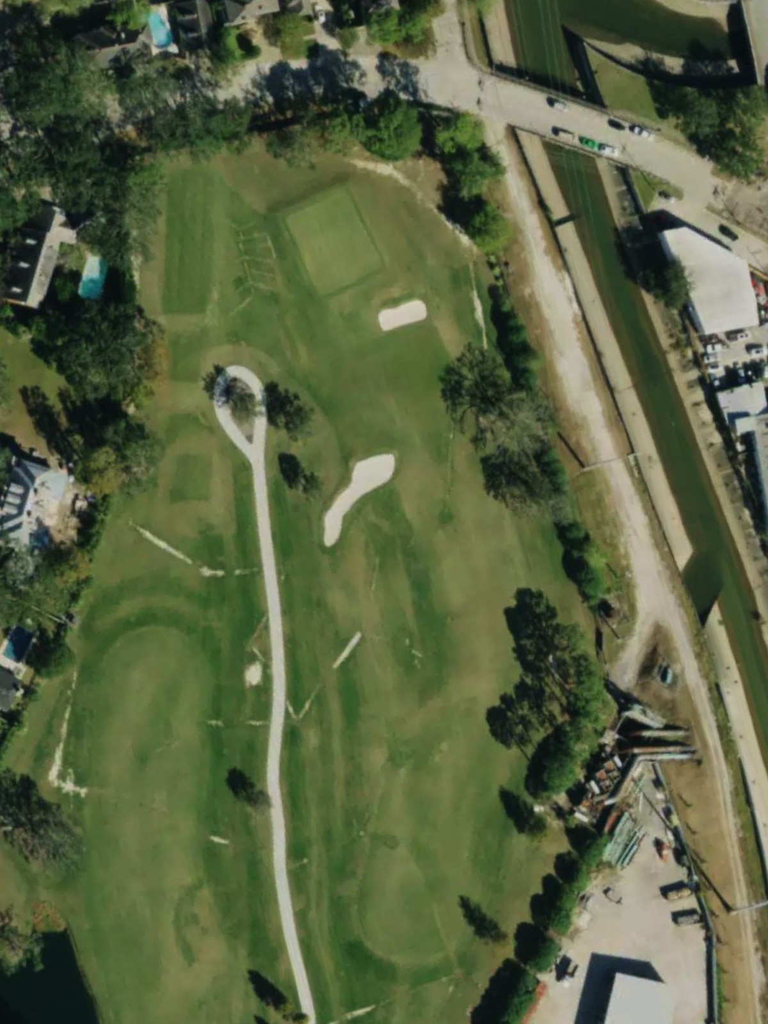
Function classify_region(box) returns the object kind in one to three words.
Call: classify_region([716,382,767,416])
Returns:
shed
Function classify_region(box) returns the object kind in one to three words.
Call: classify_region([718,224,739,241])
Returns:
car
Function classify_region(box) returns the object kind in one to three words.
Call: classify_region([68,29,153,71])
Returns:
house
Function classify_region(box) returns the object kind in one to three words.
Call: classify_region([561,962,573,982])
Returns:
vehicle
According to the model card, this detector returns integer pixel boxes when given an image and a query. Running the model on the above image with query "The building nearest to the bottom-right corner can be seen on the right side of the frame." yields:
[595,973,670,1024]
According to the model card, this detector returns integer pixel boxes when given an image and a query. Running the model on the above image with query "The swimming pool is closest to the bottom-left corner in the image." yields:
[0,627,36,682]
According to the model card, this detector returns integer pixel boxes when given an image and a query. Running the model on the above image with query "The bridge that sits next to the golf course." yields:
[488,62,656,183]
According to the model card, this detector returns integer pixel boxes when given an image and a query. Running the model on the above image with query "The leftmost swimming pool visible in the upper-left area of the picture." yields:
[79,255,107,300]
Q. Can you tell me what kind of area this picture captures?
golf course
